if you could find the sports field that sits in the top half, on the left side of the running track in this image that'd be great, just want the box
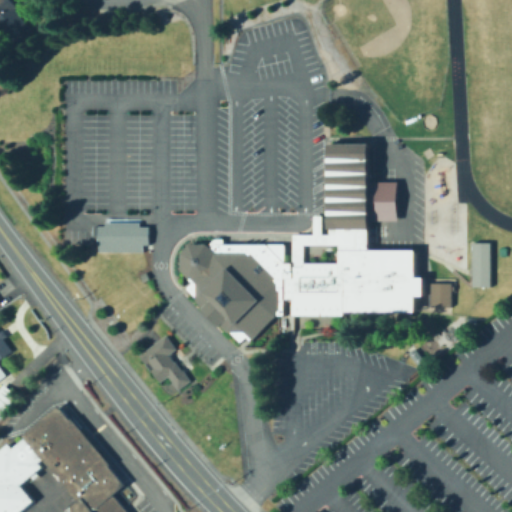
[361,0,412,58]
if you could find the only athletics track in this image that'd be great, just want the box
[450,0,512,231]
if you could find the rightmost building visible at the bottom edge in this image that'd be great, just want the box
[20,408,128,512]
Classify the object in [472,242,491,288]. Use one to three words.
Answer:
shed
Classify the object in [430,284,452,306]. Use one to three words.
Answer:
shed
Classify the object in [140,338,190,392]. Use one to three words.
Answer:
house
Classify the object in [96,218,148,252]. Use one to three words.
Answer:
building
